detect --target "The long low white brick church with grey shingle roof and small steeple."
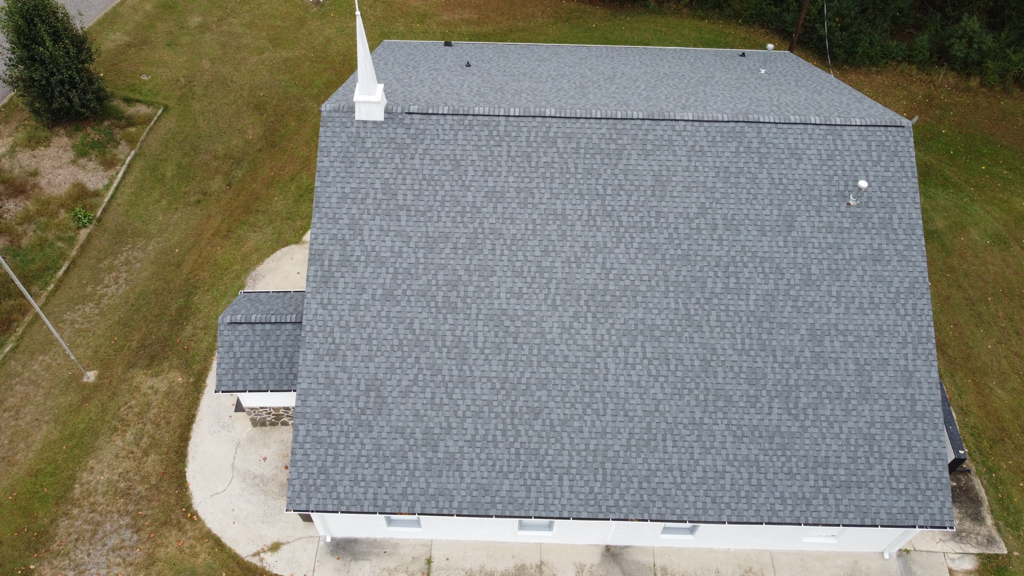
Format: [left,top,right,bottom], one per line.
[214,0,957,558]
